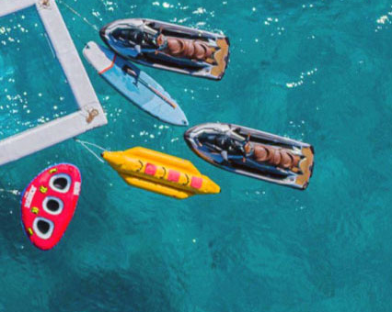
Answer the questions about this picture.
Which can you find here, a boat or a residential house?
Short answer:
boat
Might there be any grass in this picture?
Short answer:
No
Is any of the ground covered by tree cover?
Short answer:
No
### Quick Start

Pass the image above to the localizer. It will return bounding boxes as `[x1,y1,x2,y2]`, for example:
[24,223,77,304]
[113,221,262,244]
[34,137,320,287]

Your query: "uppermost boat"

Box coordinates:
[97,20,226,79]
